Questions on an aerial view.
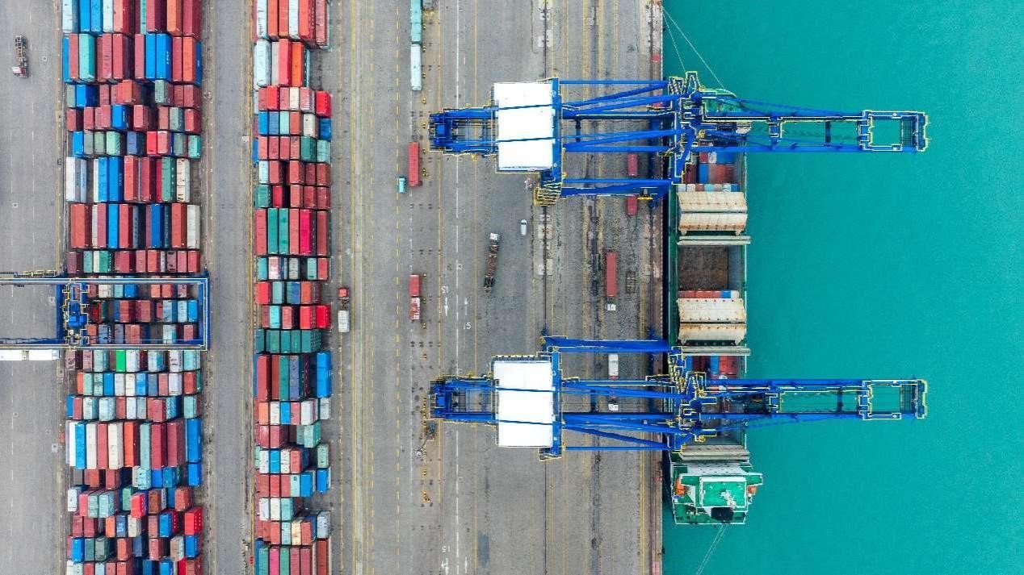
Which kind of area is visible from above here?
port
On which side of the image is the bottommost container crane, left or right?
right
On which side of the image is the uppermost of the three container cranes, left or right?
right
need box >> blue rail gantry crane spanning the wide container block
[0,265,212,360]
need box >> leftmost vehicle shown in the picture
[16,35,30,79]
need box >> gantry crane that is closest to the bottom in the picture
[428,332,929,462]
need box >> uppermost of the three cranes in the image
[428,62,929,210]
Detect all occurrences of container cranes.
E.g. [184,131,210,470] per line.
[428,332,929,462]
[0,265,212,360]
[428,62,929,210]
